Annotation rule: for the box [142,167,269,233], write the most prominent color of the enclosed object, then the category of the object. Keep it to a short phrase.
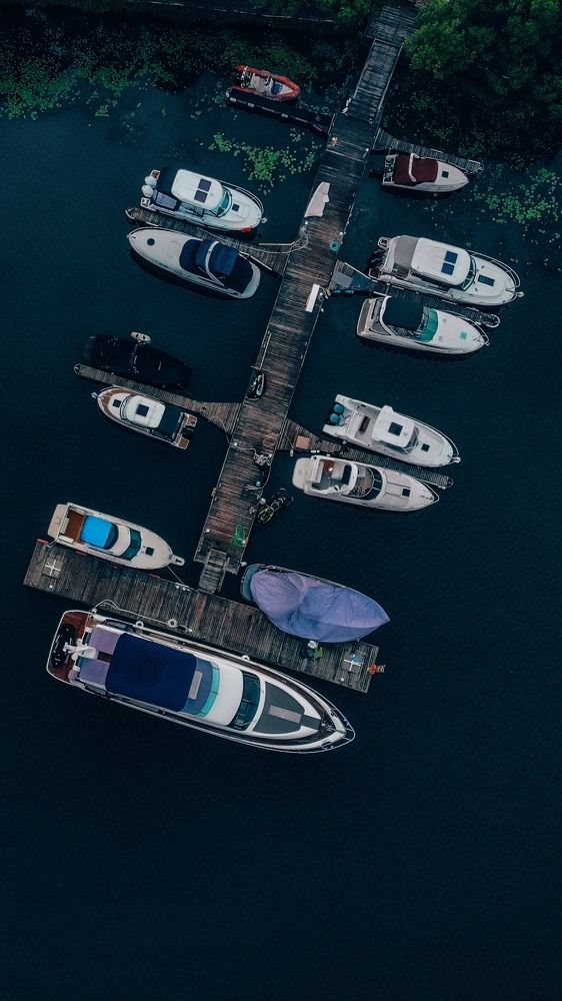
white boat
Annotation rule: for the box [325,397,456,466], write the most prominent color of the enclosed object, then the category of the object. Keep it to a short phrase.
white boat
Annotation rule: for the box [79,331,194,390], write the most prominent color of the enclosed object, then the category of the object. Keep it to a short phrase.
black boat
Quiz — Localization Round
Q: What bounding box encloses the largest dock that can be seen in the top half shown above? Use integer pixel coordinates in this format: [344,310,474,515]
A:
[194,112,376,575]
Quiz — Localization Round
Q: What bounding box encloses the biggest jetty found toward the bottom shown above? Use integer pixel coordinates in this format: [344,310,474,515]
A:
[23,541,379,693]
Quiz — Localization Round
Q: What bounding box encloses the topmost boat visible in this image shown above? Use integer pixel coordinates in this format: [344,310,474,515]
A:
[227,59,299,102]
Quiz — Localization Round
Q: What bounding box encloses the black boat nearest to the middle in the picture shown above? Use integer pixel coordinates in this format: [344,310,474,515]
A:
[257,492,289,524]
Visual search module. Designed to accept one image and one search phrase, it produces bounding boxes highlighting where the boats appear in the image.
[79,331,194,390]
[244,370,266,401]
[227,59,299,102]
[291,452,441,507]
[49,502,181,566]
[378,150,471,195]
[241,561,390,643]
[48,608,358,750]
[353,298,489,357]
[325,397,456,466]
[142,167,269,233]
[94,390,196,449]
[257,492,289,524]
[125,227,264,307]
[372,237,521,310]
